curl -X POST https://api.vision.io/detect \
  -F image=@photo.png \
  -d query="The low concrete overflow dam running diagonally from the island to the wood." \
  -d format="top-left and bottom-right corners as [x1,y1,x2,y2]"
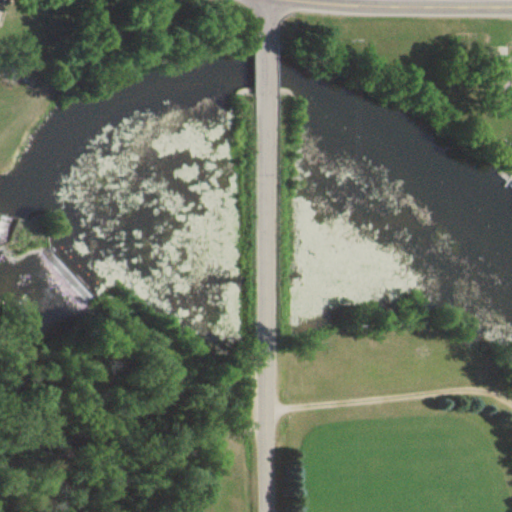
[44,240,96,303]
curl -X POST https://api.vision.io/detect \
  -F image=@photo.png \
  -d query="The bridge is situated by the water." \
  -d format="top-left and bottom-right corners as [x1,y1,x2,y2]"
[235,52,295,102]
